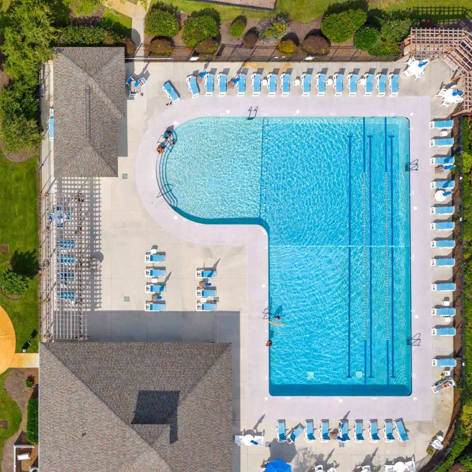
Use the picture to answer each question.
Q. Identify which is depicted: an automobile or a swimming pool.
swimming pool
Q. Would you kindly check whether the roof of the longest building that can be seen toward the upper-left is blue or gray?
gray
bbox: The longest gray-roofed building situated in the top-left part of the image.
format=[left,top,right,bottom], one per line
[52,46,122,177]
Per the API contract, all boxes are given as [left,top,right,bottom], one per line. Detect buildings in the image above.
[52,46,122,177]
[38,342,234,472]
